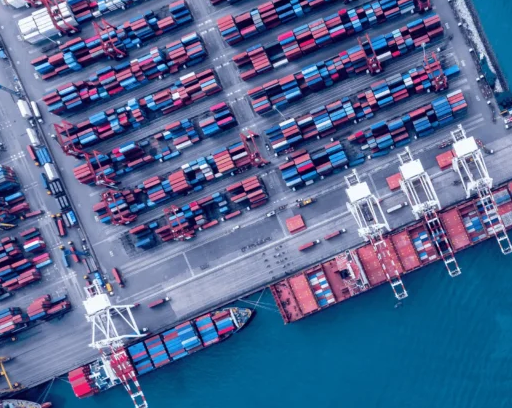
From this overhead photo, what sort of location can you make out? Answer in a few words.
port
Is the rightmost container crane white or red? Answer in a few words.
white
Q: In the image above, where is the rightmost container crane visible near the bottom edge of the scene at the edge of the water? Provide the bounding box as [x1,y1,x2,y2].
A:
[76,277,151,408]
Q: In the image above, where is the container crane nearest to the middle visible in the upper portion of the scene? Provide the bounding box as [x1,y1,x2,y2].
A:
[236,129,270,170]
